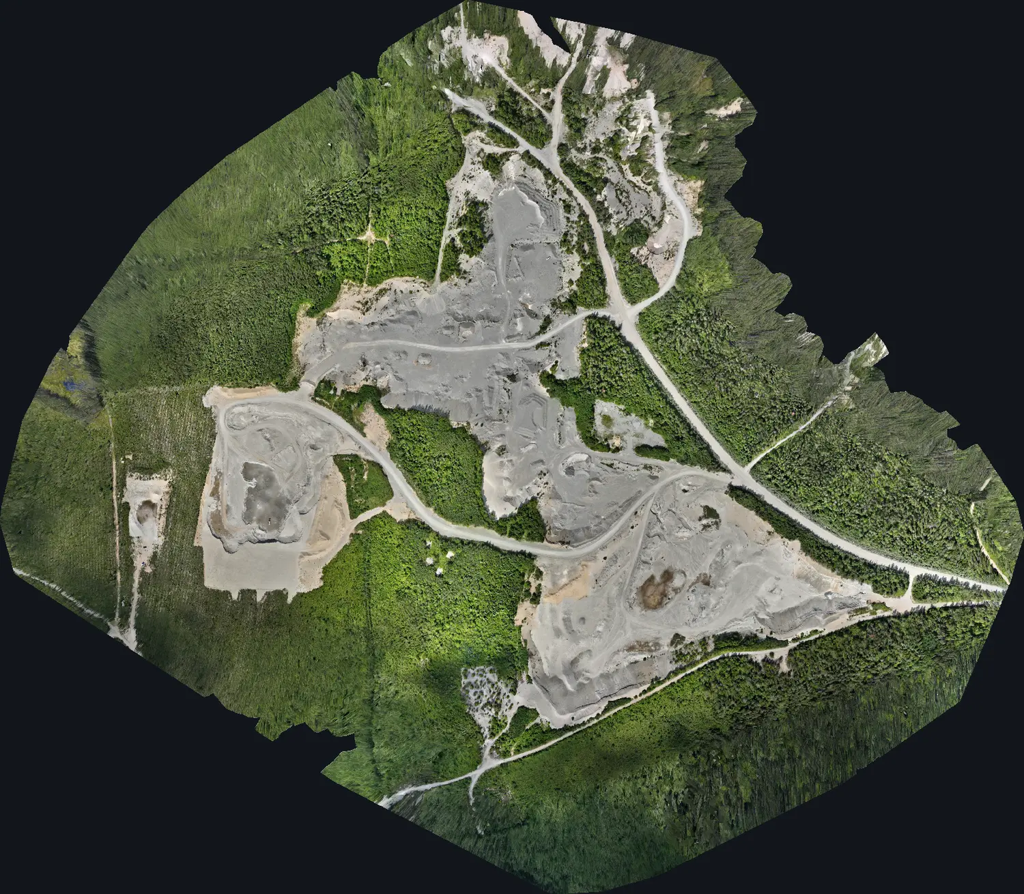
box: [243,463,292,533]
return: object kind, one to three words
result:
pond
